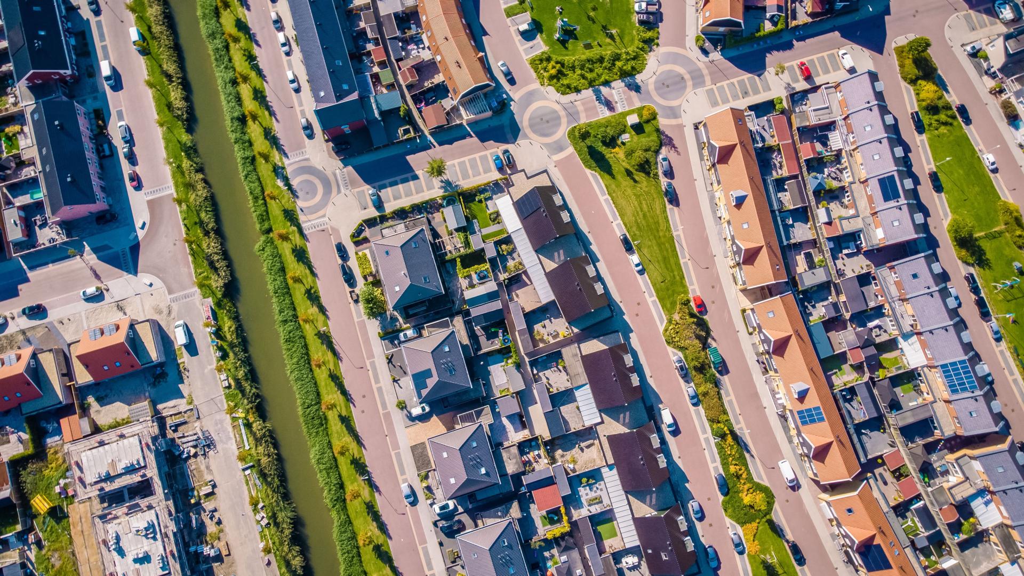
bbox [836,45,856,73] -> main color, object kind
white vehicle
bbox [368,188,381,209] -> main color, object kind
blue vehicle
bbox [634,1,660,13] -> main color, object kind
white vehicle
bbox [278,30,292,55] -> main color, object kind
white car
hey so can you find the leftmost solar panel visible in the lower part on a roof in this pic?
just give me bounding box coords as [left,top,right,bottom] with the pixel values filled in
[412,369,432,399]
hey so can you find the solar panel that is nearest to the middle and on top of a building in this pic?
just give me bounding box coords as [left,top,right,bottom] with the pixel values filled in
[515,189,541,219]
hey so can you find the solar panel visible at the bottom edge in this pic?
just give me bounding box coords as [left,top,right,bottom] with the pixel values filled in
[857,544,892,572]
